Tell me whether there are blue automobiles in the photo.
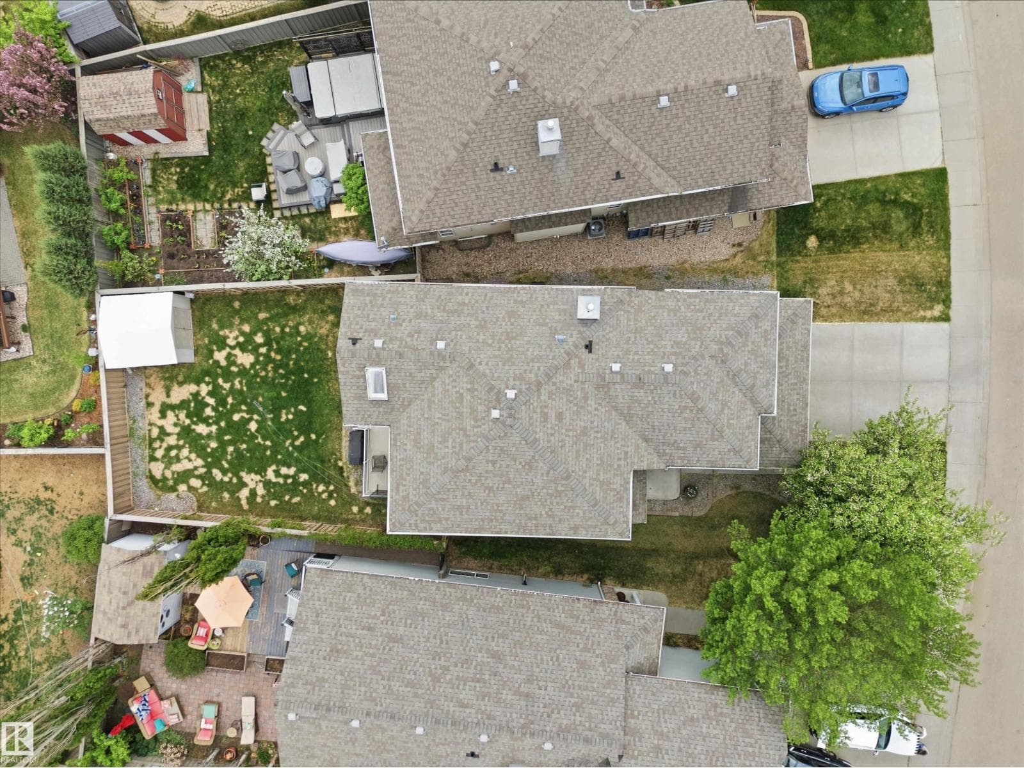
Yes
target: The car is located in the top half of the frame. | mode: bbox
[807,59,913,117]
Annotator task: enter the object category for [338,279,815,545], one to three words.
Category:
house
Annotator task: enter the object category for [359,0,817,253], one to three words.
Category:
house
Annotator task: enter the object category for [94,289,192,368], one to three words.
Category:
shed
